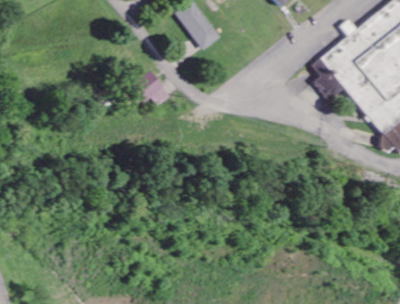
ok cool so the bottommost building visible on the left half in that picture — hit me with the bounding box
[144,80,170,106]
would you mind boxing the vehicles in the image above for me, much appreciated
[286,32,296,45]
[308,14,318,28]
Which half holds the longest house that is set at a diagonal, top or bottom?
top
